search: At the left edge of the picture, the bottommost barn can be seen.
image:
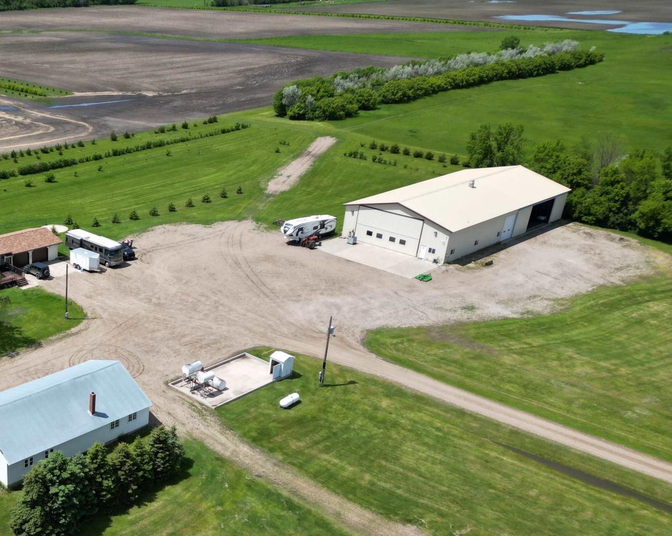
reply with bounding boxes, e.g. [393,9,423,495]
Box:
[0,359,154,487]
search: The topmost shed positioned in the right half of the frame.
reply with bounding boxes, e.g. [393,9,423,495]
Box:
[341,165,565,265]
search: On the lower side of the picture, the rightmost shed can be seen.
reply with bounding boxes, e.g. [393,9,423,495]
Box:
[272,352,296,380]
